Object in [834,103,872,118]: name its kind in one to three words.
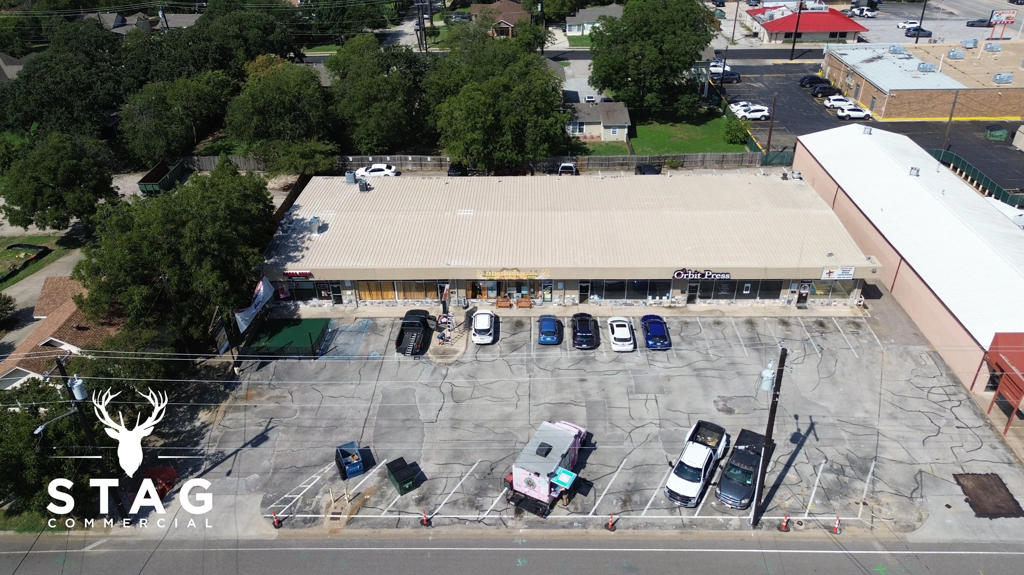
car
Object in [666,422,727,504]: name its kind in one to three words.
truck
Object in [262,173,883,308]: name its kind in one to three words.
building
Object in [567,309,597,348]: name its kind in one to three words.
car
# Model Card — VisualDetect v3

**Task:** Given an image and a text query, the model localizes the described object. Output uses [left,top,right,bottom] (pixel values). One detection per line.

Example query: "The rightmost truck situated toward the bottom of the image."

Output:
[718,427,778,508]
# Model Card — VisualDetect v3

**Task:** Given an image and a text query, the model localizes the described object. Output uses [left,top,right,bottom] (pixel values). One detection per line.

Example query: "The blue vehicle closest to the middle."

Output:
[534,310,561,343]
